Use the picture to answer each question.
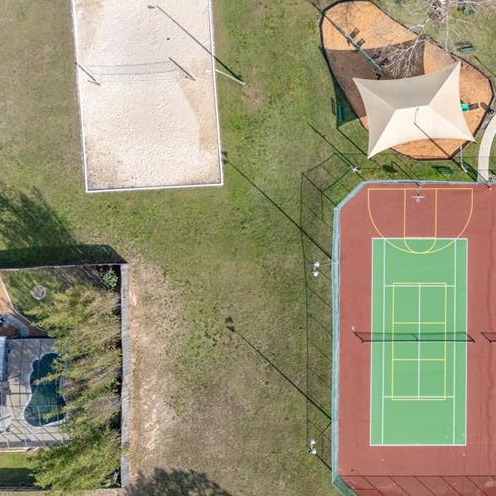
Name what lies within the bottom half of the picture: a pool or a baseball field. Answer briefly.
pool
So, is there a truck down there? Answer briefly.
No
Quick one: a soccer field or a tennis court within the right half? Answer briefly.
tennis court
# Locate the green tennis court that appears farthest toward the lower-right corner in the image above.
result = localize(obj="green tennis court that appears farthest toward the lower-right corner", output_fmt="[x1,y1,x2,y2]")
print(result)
[371,239,467,446]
